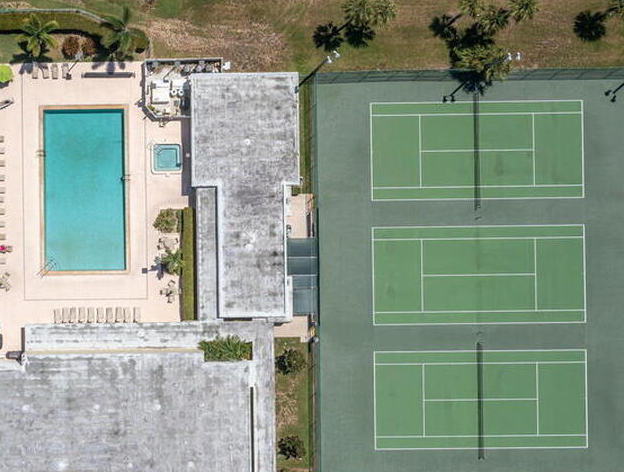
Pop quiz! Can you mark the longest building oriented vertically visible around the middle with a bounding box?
[191,72,301,323]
